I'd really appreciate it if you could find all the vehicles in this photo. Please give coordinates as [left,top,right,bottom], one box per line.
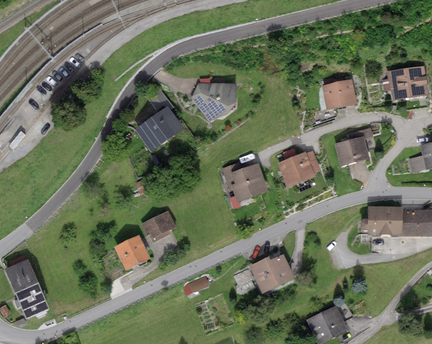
[63,62,74,72]
[74,53,84,62]
[416,137,428,142]
[40,81,52,91]
[239,154,254,162]
[252,247,259,258]
[36,86,46,94]
[45,320,56,326]
[51,71,62,81]
[326,240,337,250]
[340,333,350,341]
[264,242,269,252]
[40,124,50,134]
[28,98,38,108]
[69,56,80,67]
[46,76,56,86]
[372,239,384,244]
[58,66,69,77]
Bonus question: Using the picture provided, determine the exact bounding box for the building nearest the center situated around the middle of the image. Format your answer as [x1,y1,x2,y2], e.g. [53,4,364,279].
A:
[220,164,268,202]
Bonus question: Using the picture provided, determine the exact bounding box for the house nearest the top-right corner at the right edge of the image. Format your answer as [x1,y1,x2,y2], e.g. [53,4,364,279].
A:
[382,66,428,102]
